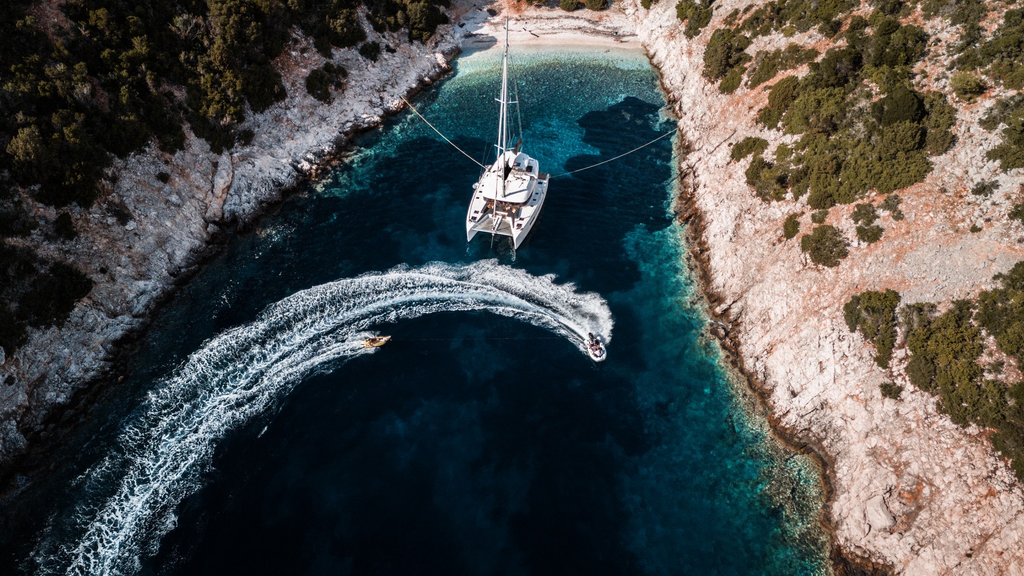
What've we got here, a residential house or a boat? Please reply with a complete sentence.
This aerial view contains a boat.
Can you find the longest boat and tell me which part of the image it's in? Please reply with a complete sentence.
The longest boat is located in the top region of the scene.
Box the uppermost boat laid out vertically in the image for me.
[468,17,550,287]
